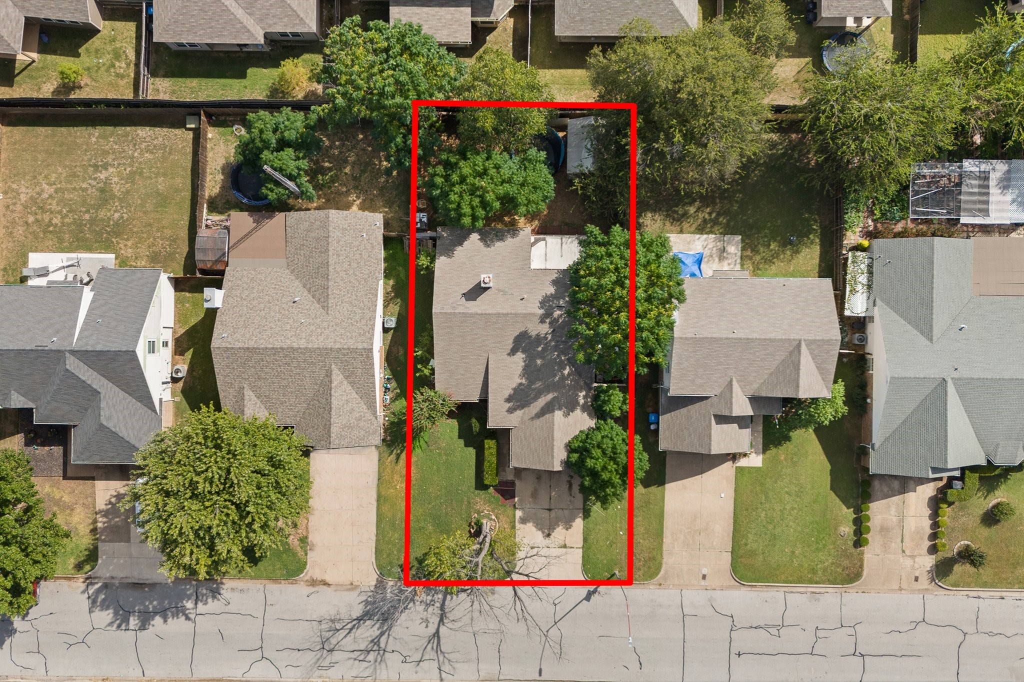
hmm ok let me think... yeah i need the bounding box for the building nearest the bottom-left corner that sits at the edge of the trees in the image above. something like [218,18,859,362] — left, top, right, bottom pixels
[0,267,175,466]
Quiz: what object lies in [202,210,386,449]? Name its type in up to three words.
house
